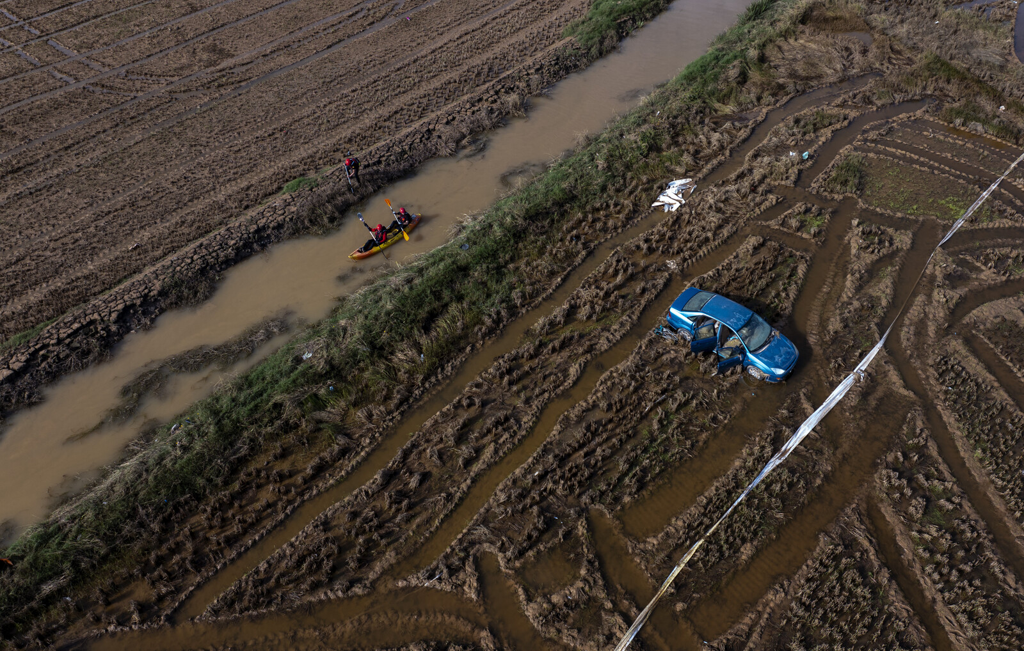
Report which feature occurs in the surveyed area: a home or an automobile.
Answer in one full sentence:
The image shows an automobile.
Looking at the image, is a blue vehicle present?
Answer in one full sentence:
Yes, looking at the shot, I can spot a blue vehicle.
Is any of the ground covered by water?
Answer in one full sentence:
Yes, water shows up in the scene.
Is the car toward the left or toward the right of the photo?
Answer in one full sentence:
The car is on the right side of the image.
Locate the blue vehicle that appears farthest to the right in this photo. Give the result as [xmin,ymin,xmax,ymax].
[668,289,803,390]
